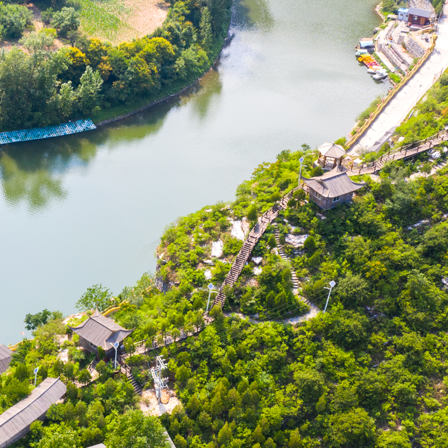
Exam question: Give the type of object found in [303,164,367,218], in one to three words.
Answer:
shed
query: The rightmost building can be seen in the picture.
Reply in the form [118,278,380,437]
[405,8,433,28]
